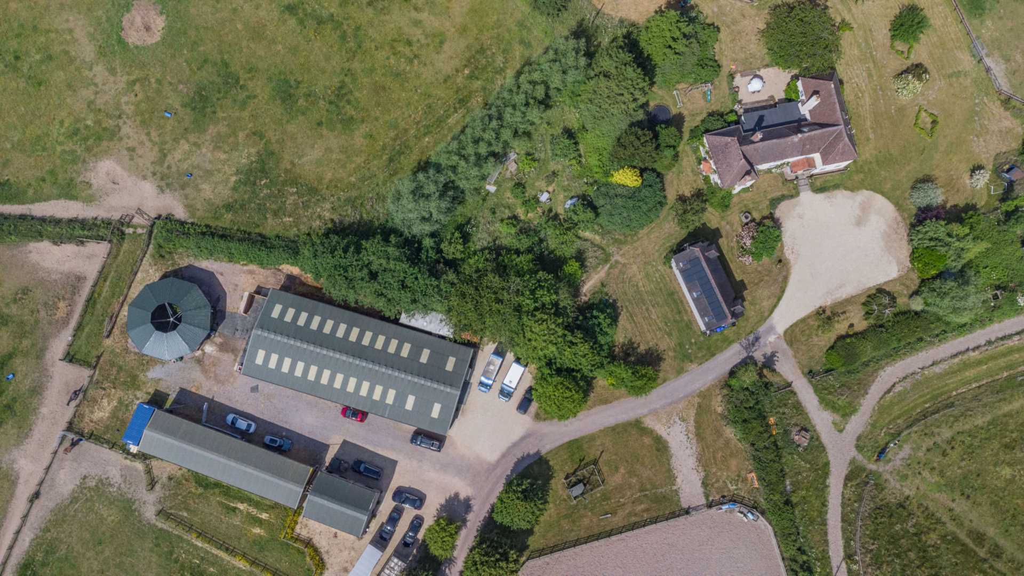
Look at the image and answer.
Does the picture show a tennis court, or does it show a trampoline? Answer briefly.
trampoline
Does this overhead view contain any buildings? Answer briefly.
Yes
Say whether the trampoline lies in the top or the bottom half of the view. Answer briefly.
top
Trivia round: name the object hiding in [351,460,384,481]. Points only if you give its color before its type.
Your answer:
black car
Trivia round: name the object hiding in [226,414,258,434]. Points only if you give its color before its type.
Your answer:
blue car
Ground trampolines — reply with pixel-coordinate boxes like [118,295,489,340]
[650,99,675,124]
